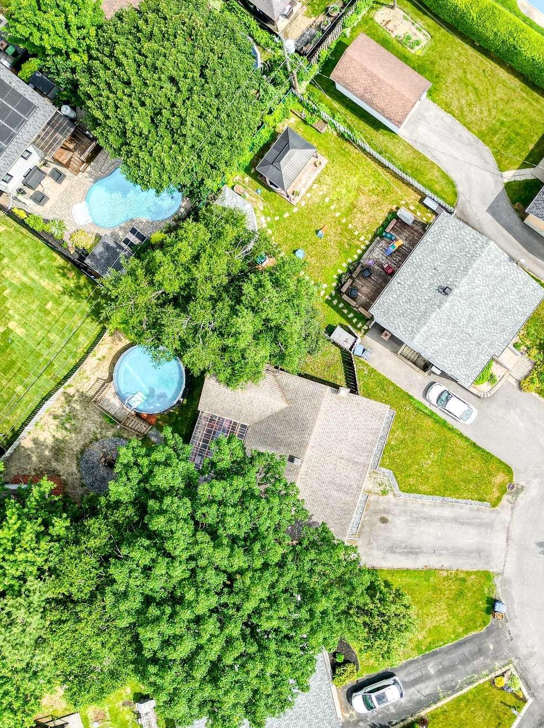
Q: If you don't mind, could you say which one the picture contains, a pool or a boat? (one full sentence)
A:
The image shows a pool.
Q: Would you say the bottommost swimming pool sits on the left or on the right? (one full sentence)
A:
The bottommost swimming pool is on the left side of the image.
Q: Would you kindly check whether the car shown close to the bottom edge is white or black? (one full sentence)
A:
The car shown close to the bottom edge looks white in the image.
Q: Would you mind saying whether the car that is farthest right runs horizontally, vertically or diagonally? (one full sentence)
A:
The car that is farthest right has been laid out diagonally relative to the frame.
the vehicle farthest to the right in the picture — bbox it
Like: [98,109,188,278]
[423,379,480,426]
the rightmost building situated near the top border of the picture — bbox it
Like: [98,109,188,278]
[329,33,432,137]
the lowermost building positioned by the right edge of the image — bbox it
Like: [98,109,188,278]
[368,210,544,389]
